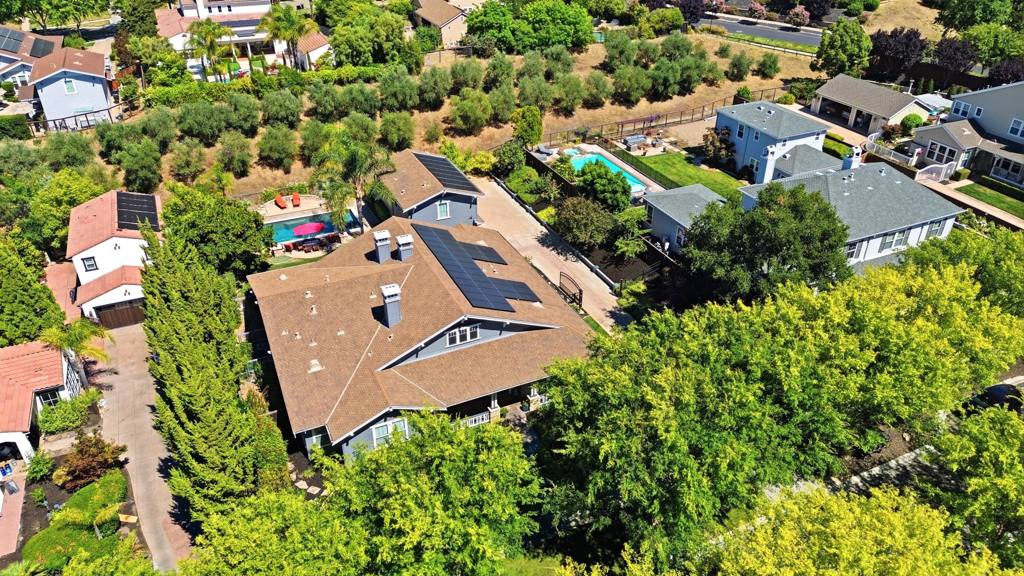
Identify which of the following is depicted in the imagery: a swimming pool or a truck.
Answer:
swimming pool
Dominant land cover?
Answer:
trees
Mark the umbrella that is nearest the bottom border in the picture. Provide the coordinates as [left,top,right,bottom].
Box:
[291,220,324,247]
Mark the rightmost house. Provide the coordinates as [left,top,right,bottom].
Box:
[911,82,1024,190]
